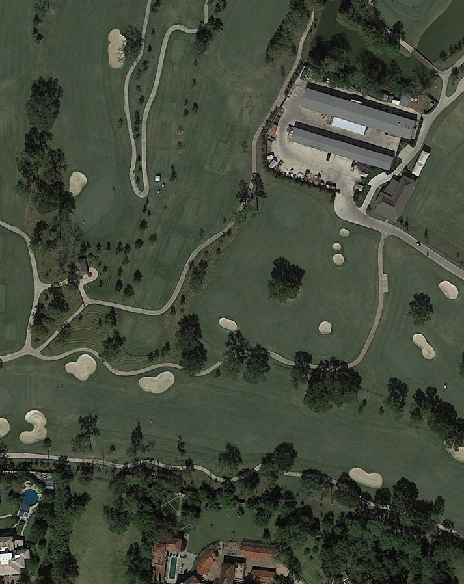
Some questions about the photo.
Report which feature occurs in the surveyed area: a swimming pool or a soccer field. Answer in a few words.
swimming pool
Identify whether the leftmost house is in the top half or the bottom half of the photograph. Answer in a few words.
bottom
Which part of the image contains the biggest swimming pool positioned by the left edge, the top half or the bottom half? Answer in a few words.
bottom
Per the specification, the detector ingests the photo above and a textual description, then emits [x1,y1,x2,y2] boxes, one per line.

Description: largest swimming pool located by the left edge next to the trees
[17,487,41,518]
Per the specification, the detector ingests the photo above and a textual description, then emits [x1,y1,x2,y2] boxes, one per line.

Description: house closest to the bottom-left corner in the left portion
[0,536,32,584]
